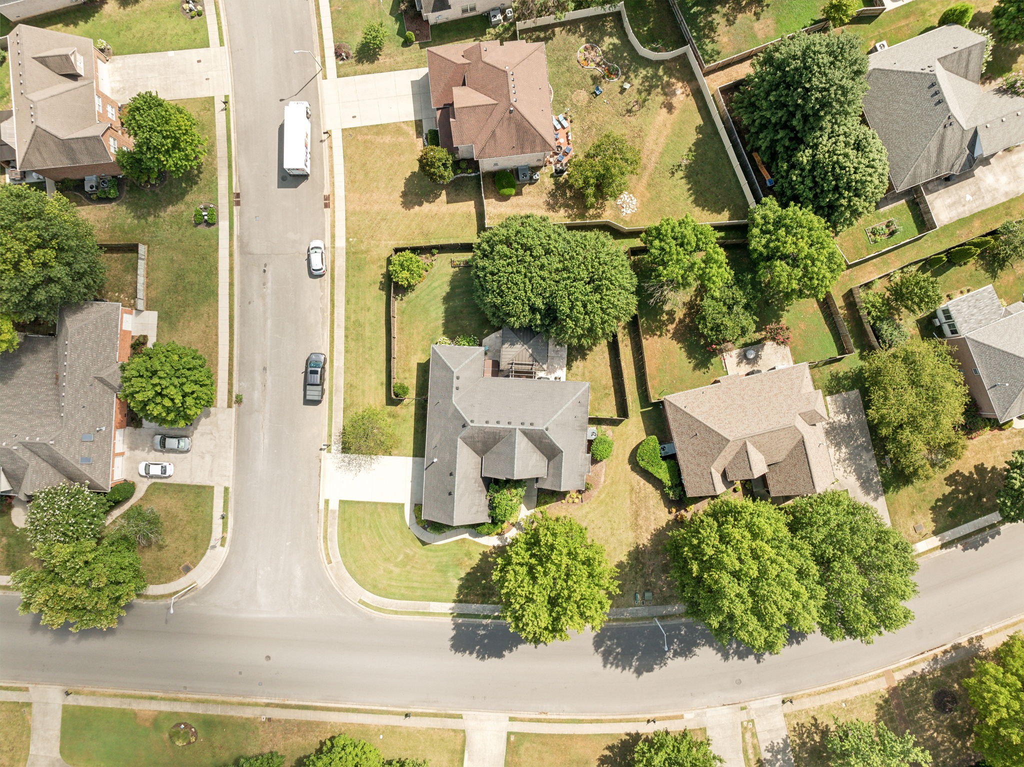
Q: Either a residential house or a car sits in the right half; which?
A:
residential house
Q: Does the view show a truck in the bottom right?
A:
No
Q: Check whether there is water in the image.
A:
No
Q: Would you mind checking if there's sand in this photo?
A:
No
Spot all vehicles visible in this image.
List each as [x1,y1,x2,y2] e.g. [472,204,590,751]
[307,241,326,276]
[305,352,327,400]
[284,102,312,178]
[152,434,192,452]
[138,461,175,479]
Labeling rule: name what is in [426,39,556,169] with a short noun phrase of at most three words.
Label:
house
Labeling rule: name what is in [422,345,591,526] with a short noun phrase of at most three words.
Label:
house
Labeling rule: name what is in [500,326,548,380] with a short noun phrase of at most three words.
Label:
building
